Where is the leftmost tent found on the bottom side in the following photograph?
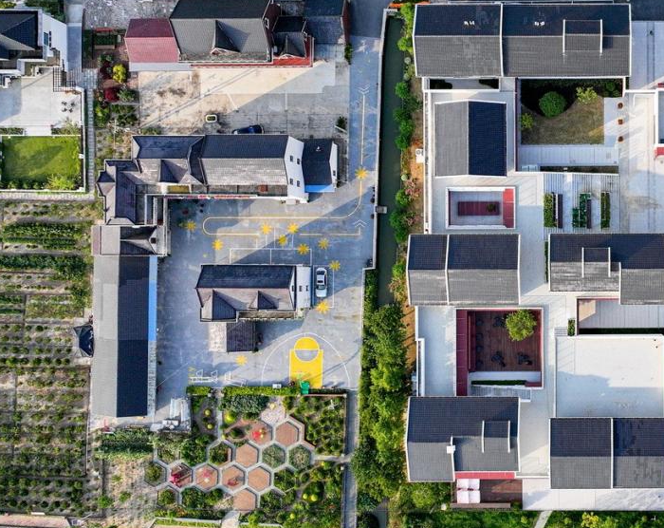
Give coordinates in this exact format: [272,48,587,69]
[74,324,92,355]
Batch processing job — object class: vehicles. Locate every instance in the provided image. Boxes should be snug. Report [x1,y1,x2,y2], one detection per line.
[231,121,266,135]
[312,266,328,299]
